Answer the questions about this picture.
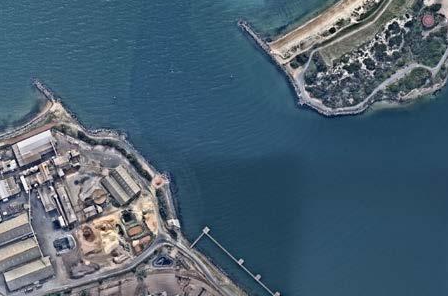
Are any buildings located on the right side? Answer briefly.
No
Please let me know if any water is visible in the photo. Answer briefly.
Yes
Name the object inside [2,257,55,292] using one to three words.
shed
